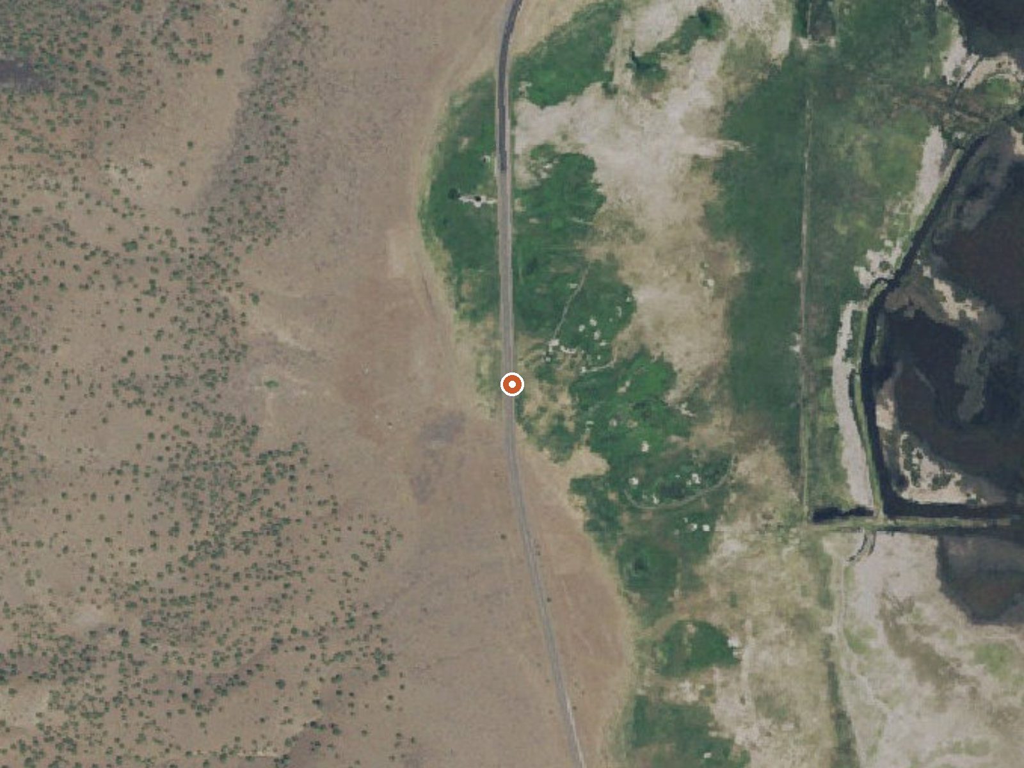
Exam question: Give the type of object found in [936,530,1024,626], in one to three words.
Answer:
pond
